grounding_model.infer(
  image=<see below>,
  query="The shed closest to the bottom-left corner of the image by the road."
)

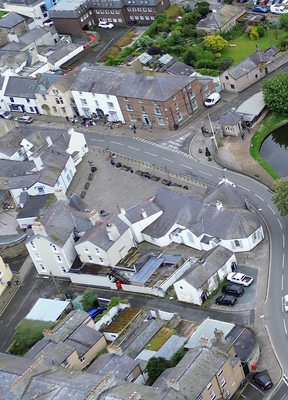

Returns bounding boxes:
[26,301,69,329]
